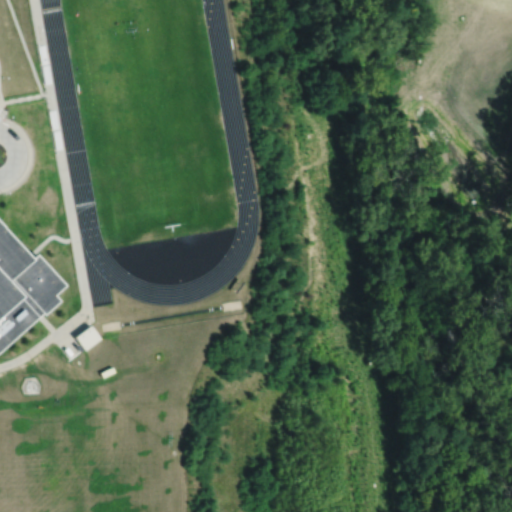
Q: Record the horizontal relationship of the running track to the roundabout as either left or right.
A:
on the right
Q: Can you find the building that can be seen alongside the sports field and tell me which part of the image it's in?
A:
left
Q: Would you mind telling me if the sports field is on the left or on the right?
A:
left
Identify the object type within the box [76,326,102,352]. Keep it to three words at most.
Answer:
shed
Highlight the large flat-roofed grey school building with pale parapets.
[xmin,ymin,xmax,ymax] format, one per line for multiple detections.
[0,218,68,354]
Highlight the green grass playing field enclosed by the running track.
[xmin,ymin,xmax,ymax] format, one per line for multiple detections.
[62,0,238,248]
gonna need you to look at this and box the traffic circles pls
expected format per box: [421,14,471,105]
[0,114,35,197]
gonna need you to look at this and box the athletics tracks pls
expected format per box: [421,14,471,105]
[41,0,258,316]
